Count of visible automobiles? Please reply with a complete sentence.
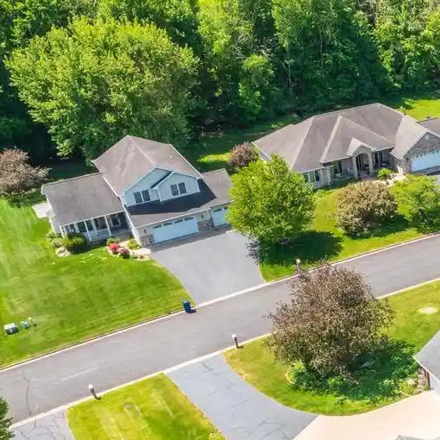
The picture shows no automobiles.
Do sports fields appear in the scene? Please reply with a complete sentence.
No, there's no sports field here.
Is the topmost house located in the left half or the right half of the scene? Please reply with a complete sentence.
It is on the right.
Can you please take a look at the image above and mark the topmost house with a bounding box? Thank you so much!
[252,104,440,187]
